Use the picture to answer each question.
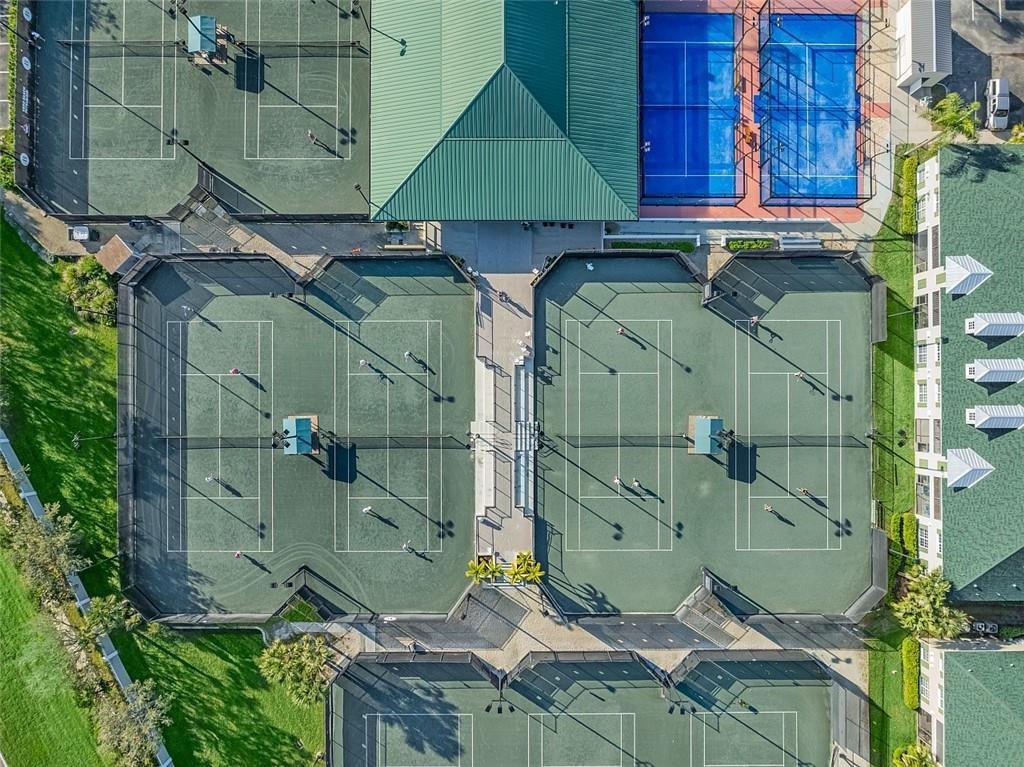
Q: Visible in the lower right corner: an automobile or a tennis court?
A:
tennis court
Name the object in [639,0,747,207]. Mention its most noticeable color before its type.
blue sports court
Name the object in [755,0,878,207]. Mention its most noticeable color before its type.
blue sports court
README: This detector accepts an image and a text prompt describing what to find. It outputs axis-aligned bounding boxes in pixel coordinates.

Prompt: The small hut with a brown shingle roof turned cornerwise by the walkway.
[95,234,145,276]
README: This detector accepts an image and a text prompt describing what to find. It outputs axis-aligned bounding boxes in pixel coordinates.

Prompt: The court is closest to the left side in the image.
[37,0,209,217]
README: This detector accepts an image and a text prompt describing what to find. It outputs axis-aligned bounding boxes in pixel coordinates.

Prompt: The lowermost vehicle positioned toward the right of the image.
[981,82,1009,130]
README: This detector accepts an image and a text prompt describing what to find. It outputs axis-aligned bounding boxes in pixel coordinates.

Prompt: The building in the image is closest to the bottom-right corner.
[919,638,1024,767]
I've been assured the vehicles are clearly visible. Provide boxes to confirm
[1002,0,1024,9]
[981,82,1009,130]
[72,225,101,241]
